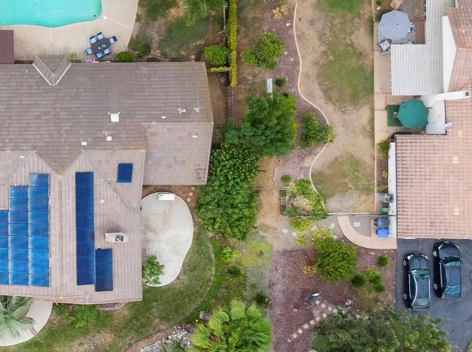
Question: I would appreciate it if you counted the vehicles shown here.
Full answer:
The number of vehicles here is 2.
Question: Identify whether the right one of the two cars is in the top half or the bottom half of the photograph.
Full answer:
Seen from above, the right one of the two cars lies in the bottom half of the view.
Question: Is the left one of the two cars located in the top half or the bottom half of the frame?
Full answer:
You can find the left one of the two cars in the bottom half.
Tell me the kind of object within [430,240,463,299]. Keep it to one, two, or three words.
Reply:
car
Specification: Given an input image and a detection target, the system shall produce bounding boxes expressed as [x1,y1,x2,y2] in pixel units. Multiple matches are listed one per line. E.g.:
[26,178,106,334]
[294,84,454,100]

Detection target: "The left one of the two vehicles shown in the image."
[400,251,432,310]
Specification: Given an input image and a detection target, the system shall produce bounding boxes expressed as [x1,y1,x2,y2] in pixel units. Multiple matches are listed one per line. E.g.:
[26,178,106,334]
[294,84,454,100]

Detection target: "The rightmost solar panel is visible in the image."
[118,164,133,184]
